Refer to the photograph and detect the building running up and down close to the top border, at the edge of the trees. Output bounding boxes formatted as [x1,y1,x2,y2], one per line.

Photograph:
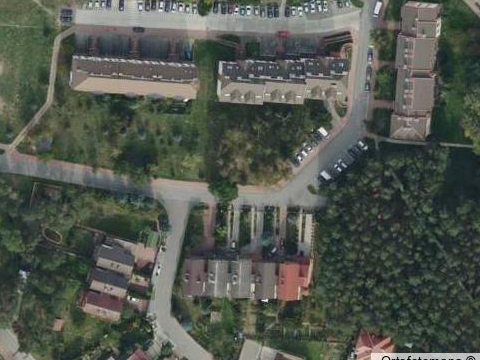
[390,1,443,140]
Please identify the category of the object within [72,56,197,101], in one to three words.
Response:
building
